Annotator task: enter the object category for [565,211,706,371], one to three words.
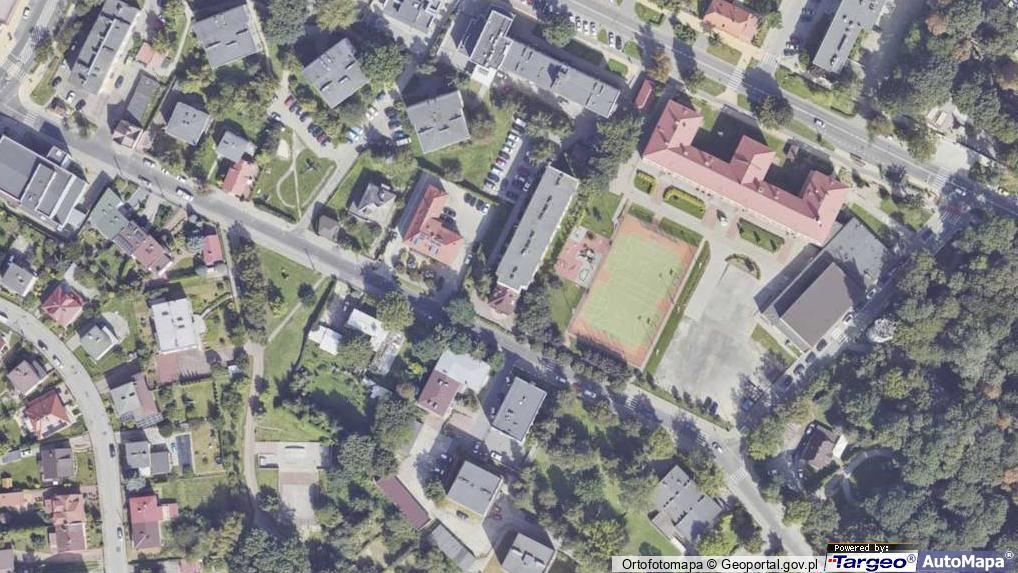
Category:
sports field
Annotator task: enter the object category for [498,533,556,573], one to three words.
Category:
building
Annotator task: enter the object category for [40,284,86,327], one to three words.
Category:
house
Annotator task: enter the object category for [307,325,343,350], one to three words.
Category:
shed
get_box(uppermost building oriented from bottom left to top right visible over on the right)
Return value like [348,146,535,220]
[812,0,890,76]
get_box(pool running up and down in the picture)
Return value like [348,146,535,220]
[177,434,196,477]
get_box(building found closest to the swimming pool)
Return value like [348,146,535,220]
[151,450,172,475]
